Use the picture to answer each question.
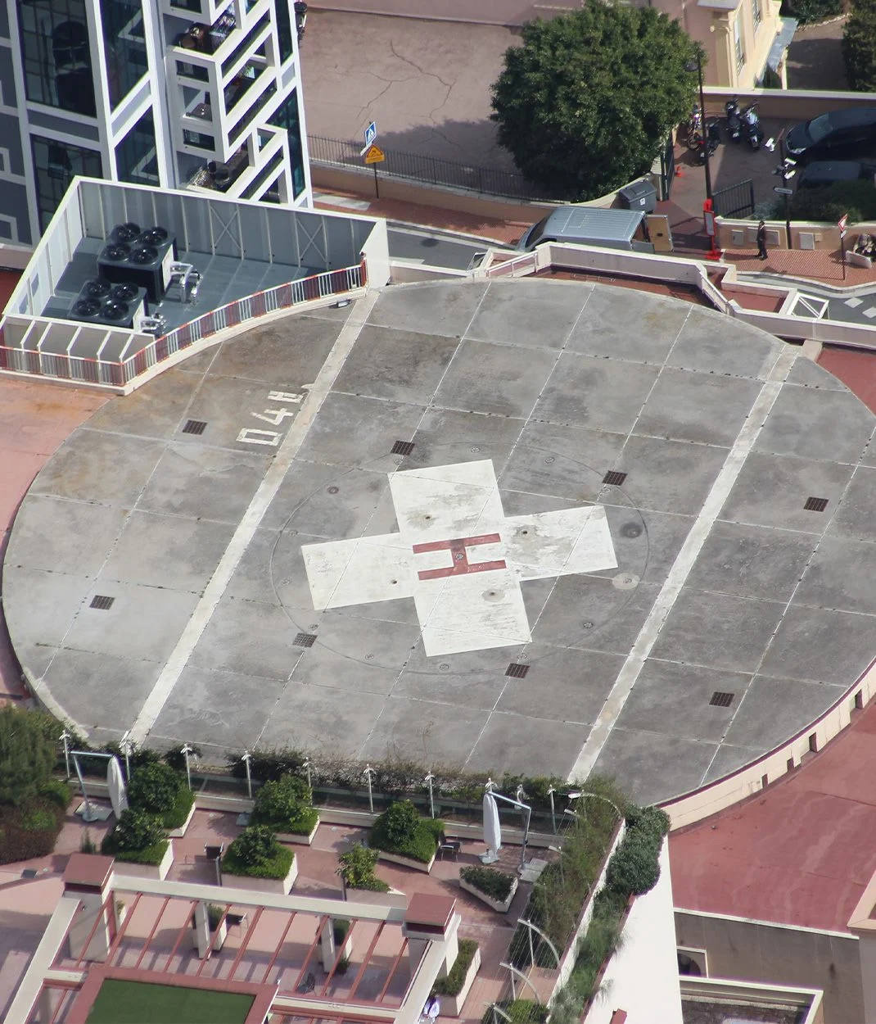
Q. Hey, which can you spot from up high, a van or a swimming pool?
van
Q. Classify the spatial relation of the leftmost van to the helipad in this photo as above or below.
above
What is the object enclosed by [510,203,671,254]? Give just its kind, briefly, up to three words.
van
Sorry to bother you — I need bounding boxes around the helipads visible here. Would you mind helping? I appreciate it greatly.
[1,279,876,837]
